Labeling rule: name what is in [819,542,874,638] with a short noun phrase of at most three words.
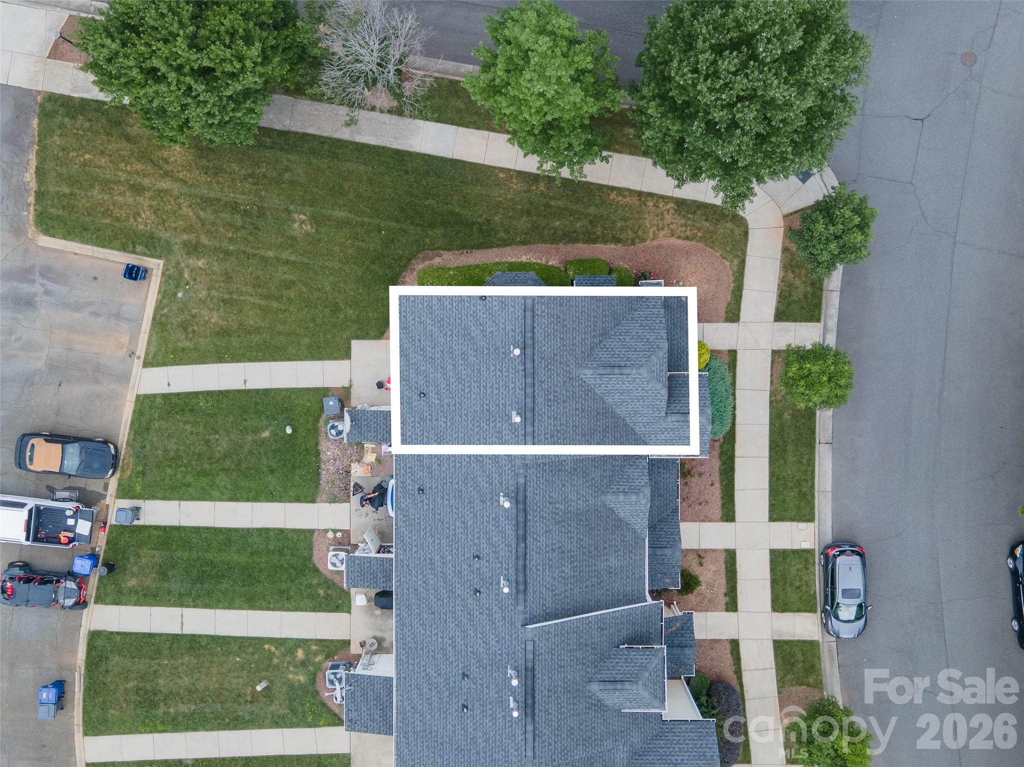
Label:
car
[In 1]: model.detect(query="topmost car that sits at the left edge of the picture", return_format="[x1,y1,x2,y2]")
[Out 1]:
[15,431,123,484]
